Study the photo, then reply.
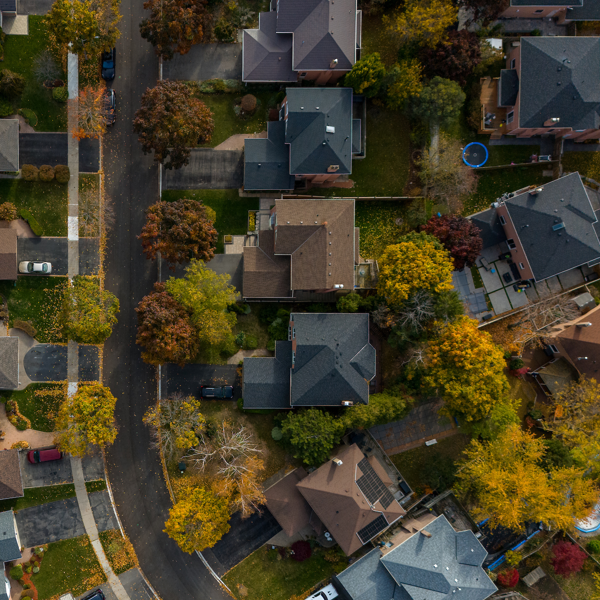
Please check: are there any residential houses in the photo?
Yes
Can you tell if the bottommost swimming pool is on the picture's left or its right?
right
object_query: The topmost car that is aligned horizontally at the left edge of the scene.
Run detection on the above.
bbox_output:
[19,260,52,274]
